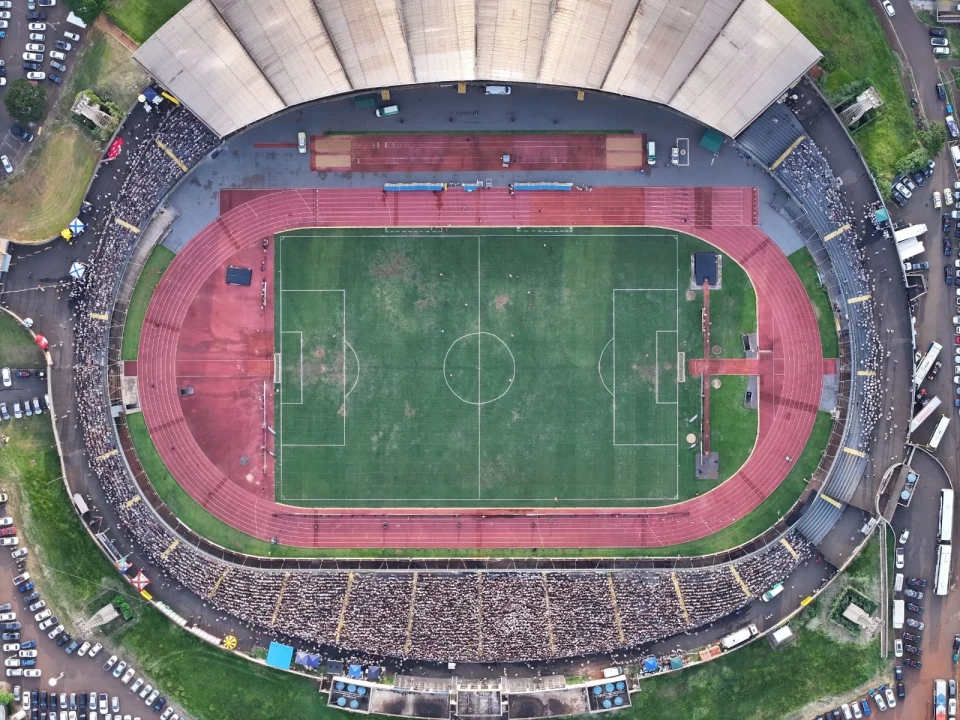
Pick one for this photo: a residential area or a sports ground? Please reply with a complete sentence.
This looks like a sports ground.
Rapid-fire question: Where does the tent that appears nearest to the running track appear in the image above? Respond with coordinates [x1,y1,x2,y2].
[699,127,728,153]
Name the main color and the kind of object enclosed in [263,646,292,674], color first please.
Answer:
blue tent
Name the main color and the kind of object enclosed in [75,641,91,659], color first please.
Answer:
white car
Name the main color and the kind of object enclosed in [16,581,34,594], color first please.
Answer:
blue vehicle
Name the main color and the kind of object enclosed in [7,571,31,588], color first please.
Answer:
white vehicle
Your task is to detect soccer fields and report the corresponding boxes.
[274,226,759,509]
